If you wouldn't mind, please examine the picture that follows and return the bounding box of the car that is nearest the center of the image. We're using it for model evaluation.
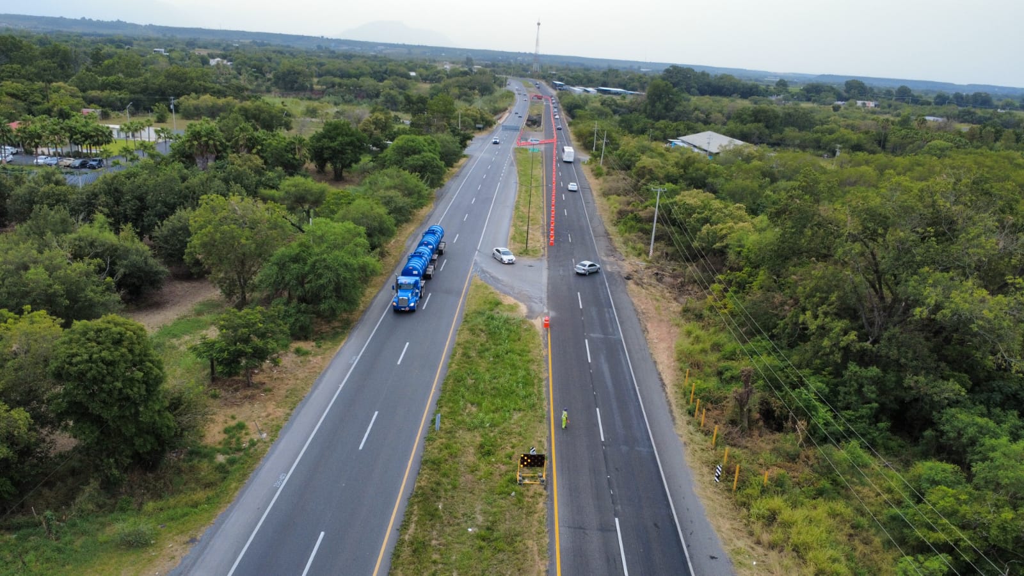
[494,249,517,265]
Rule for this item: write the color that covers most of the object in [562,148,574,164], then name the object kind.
white vehicle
